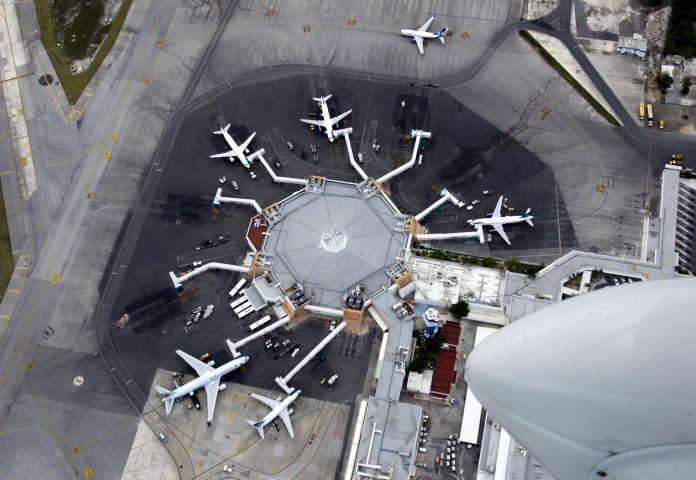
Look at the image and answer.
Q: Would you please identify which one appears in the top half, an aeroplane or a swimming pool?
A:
aeroplane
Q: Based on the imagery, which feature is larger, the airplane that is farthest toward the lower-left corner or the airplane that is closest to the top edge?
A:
the airplane that is farthest toward the lower-left corner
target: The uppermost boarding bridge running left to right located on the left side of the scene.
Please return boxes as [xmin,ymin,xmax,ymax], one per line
[213,188,263,213]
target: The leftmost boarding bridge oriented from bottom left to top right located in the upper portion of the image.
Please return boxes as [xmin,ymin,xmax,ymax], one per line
[376,130,431,185]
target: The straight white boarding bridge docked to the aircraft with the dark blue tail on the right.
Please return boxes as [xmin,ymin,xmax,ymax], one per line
[414,223,485,245]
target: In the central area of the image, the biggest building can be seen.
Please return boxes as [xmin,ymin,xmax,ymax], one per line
[246,174,420,328]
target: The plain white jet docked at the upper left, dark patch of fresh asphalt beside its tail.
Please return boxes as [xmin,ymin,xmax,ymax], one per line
[205,121,256,167]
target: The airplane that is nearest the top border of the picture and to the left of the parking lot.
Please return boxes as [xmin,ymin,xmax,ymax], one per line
[398,14,447,52]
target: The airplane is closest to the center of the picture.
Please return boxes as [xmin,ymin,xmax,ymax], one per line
[298,92,352,142]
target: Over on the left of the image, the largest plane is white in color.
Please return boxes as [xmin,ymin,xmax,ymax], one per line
[156,347,249,418]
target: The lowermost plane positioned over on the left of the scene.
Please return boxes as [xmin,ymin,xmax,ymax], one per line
[250,390,302,438]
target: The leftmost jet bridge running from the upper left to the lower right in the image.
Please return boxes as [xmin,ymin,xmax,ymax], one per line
[246,150,302,188]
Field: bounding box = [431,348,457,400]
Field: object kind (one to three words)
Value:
shed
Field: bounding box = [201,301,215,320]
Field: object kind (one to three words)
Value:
vehicle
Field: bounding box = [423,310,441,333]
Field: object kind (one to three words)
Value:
building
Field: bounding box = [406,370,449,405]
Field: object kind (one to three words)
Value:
shed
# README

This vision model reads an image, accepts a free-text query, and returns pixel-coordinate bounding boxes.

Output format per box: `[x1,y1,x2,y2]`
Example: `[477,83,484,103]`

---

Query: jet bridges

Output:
[226,315,290,360]
[332,128,366,180]
[246,150,302,188]
[169,262,249,292]
[213,188,263,213]
[274,322,347,396]
[414,223,485,245]
[376,130,431,185]
[413,186,462,220]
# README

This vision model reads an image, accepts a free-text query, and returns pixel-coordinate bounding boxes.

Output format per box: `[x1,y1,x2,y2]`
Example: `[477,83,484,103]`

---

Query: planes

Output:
[250,390,302,438]
[398,14,447,52]
[470,196,534,243]
[298,92,352,142]
[156,347,249,418]
[205,121,256,167]
[466,279,696,480]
